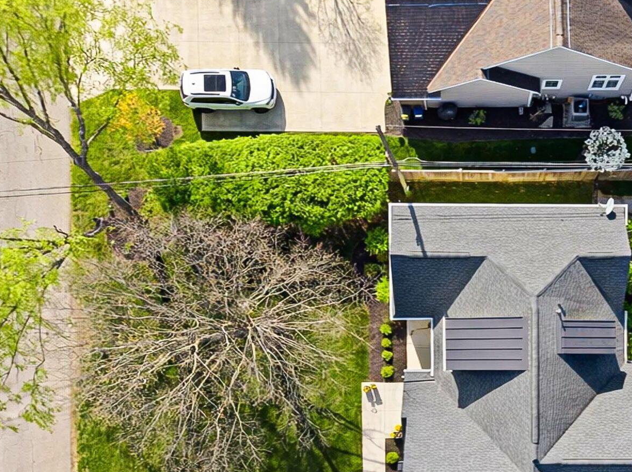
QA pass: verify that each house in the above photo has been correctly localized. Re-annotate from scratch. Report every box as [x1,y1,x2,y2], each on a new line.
[386,0,632,121]
[388,201,632,472]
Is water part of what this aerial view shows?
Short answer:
No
